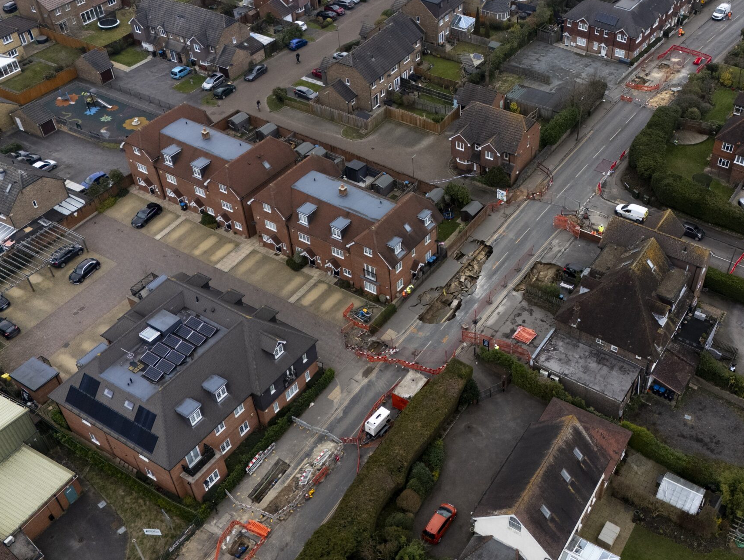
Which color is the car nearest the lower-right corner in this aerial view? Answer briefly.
red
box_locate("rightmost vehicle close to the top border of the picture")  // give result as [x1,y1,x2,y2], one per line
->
[710,1,733,21]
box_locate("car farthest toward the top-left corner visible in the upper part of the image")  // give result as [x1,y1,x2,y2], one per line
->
[0,1,18,15]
